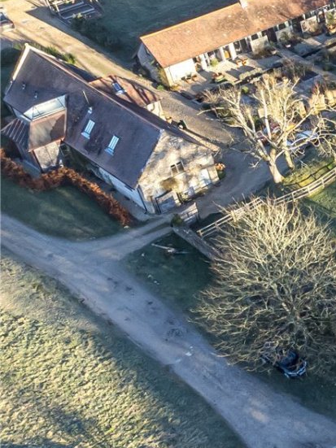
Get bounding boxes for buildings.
[0,42,230,216]
[124,0,336,85]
